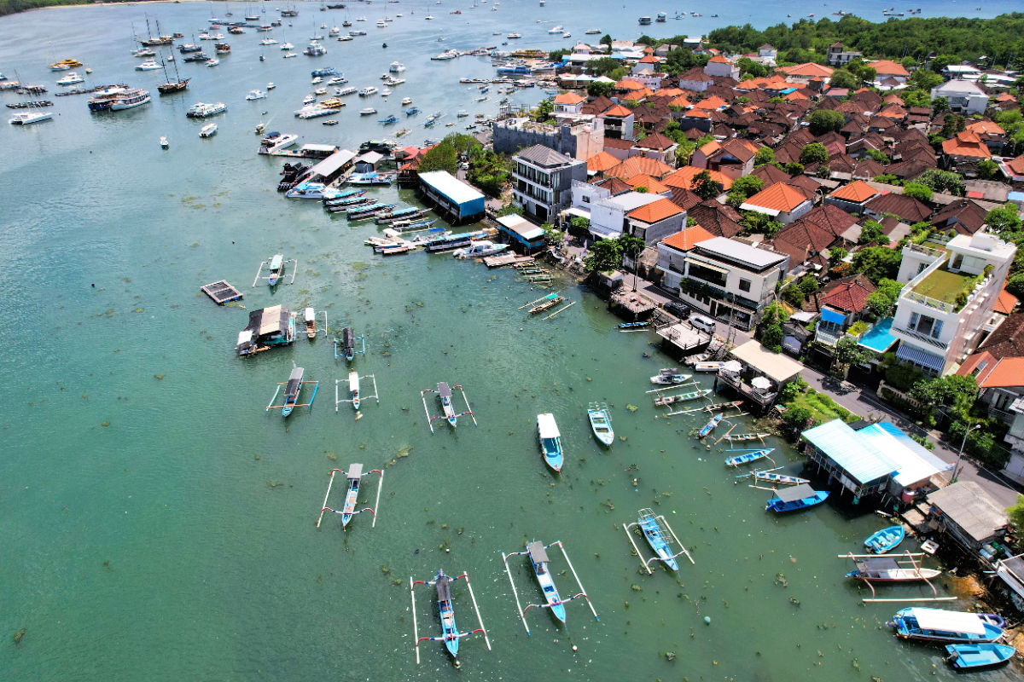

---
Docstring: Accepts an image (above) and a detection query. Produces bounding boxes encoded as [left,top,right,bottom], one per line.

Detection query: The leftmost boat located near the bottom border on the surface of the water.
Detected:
[412,563,486,665]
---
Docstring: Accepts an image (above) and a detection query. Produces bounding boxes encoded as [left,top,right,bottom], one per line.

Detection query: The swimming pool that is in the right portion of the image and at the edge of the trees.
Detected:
[853,316,894,370]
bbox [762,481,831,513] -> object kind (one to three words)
boat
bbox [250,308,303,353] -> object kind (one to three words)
house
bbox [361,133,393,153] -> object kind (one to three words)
boat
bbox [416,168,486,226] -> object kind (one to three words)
shed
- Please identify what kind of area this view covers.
residential area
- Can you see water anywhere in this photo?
Yes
